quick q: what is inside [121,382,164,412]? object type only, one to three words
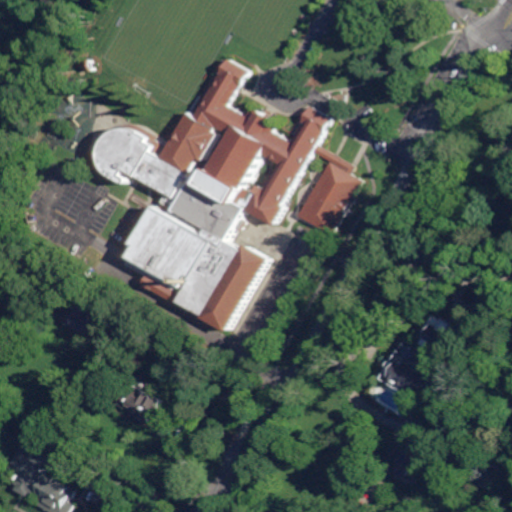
house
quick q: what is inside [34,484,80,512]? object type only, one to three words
house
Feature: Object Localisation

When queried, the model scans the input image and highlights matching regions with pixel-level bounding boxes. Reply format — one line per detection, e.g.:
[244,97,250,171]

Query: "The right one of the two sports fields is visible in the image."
[224,0,308,60]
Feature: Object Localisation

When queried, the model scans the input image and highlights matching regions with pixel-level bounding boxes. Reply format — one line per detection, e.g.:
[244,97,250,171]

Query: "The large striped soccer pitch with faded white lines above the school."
[104,0,246,102]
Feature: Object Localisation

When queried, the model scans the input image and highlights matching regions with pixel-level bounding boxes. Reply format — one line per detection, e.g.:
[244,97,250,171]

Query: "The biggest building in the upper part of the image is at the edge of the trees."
[92,60,339,330]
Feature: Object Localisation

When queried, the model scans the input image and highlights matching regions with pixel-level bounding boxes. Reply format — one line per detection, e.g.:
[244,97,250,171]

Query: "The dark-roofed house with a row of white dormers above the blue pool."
[376,342,426,382]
